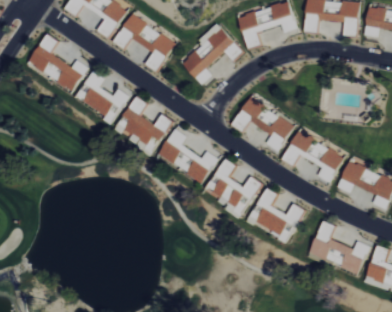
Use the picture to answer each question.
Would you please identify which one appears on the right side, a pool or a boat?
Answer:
pool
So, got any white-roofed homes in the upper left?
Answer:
Yes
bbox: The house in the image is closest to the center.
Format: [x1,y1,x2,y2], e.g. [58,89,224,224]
[158,128,218,186]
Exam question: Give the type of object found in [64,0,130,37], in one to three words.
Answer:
house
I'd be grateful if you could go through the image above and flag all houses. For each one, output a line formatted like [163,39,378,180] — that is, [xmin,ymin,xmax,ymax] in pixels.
[338,159,392,209]
[115,10,180,70]
[364,246,392,292]
[364,4,392,40]
[308,222,370,278]
[247,188,304,244]
[74,72,131,125]
[204,160,262,218]
[238,0,298,49]
[113,96,172,156]
[282,126,348,183]
[233,92,298,150]
[158,128,218,186]
[28,34,86,92]
[64,0,130,37]
[304,0,362,42]
[178,22,242,86]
